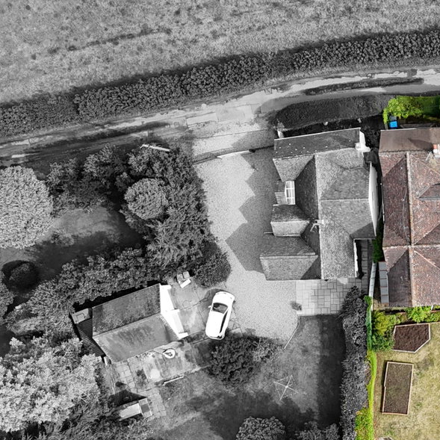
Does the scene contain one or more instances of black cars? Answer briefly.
No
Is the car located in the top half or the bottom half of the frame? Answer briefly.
bottom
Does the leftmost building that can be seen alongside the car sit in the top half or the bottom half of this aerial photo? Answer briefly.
bottom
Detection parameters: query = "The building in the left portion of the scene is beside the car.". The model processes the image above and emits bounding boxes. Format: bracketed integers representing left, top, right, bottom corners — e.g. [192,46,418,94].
[93,284,188,362]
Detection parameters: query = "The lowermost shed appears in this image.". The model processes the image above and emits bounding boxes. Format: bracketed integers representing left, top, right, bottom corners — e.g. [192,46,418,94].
[119,398,154,417]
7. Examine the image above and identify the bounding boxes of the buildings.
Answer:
[93,284,188,362]
[260,126,377,280]
[379,127,440,306]
[119,398,154,417]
